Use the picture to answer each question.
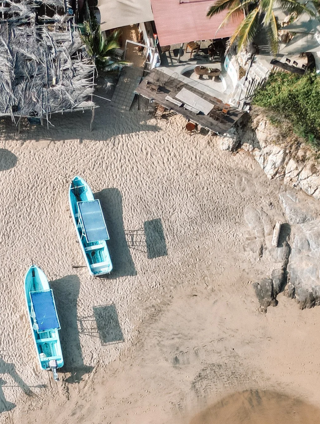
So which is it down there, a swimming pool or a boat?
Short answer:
boat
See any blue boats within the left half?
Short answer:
Yes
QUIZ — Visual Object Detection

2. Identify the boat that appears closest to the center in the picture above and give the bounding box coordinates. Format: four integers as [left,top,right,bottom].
[72,177,113,279]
